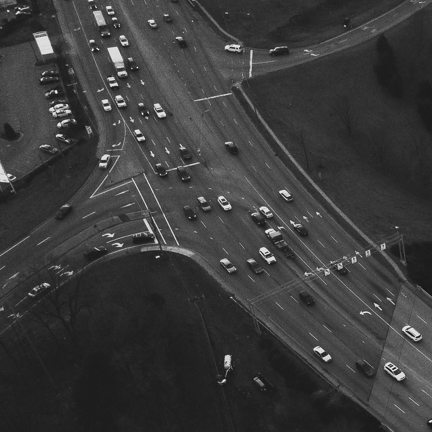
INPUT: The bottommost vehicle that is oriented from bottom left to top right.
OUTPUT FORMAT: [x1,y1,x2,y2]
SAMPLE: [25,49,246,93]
[26,284,51,300]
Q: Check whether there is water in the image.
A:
No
